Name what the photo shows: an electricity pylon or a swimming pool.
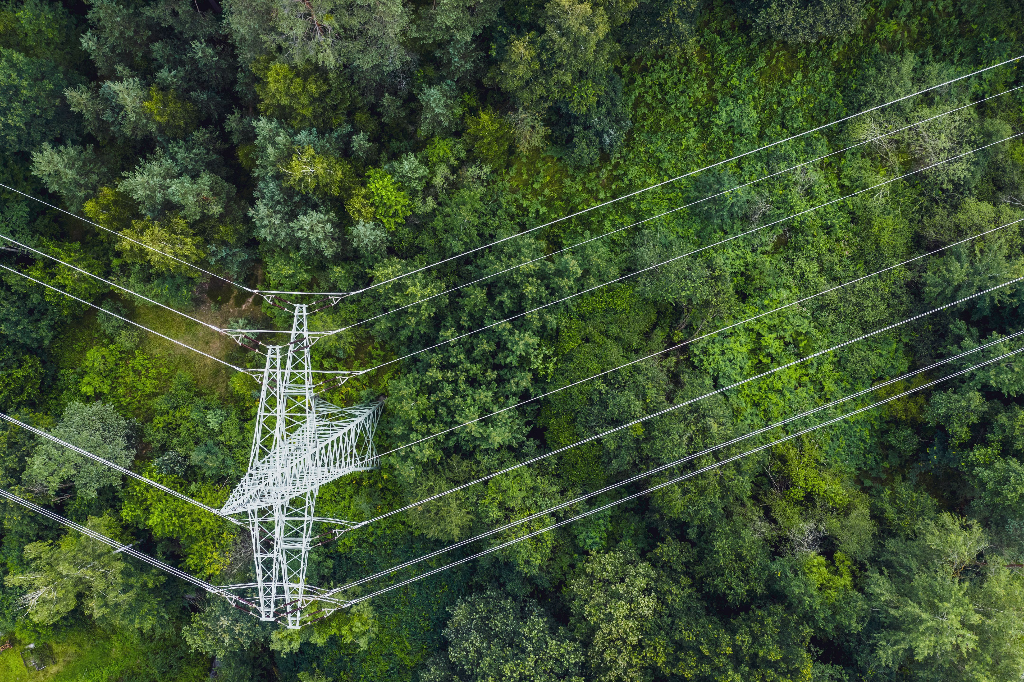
electricity pylon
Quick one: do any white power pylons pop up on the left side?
Yes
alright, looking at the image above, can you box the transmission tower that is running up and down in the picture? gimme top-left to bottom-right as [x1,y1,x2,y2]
[214,306,390,630]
